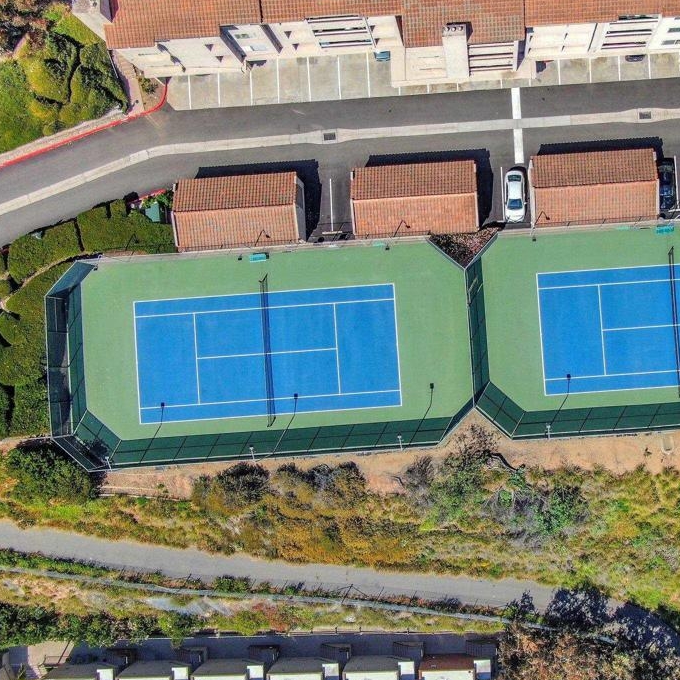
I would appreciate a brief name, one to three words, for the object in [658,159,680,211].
car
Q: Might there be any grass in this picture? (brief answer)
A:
Yes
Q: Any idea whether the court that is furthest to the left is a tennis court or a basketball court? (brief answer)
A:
tennis court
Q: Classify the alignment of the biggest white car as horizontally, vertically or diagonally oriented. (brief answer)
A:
vertically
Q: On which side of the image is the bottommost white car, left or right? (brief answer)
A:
right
